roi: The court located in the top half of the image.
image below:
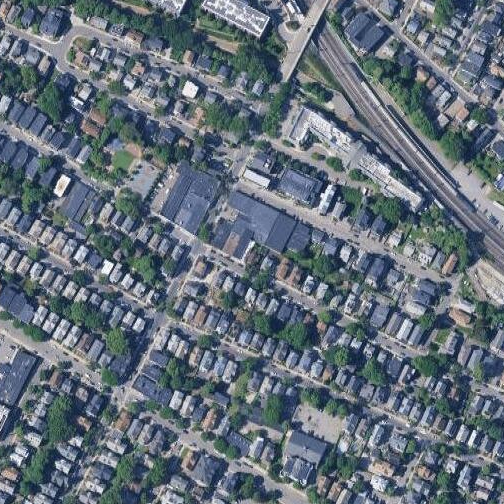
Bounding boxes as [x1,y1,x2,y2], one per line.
[130,161,160,199]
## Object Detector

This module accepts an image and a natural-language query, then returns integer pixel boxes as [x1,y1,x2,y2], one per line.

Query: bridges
[280,0,331,84]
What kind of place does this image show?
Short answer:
residential area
